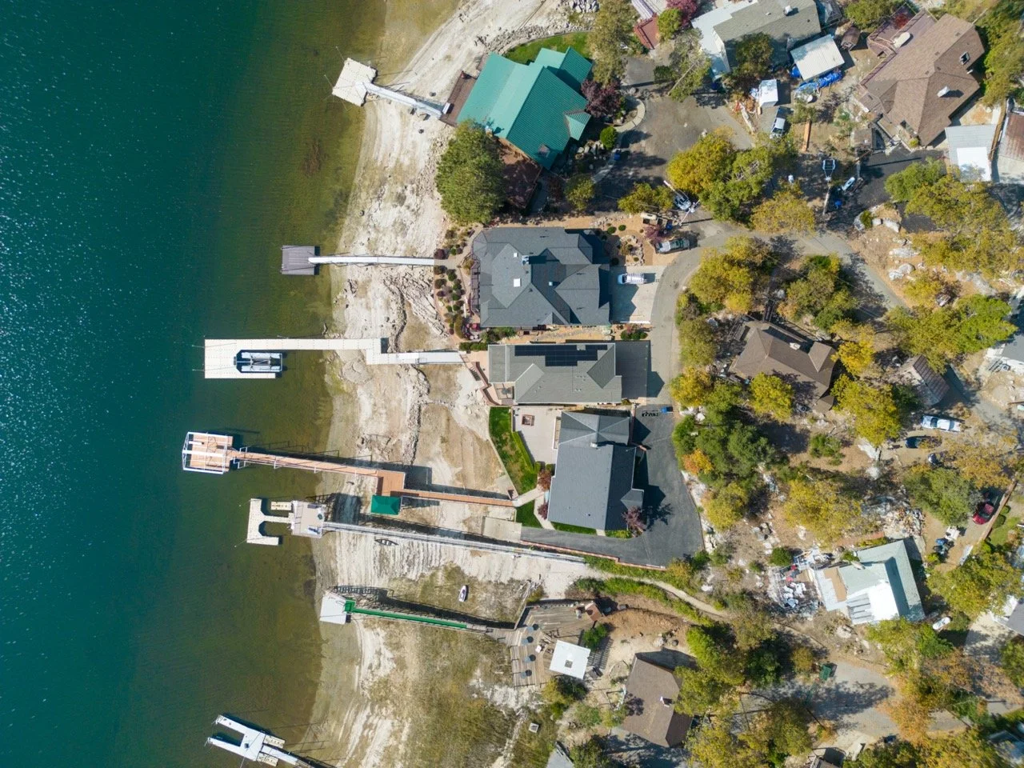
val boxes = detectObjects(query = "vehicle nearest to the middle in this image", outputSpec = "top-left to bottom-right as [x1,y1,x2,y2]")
[616,270,650,286]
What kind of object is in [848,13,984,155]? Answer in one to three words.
house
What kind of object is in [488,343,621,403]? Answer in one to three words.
house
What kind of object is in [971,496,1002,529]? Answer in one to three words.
car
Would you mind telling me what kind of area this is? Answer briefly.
residential area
